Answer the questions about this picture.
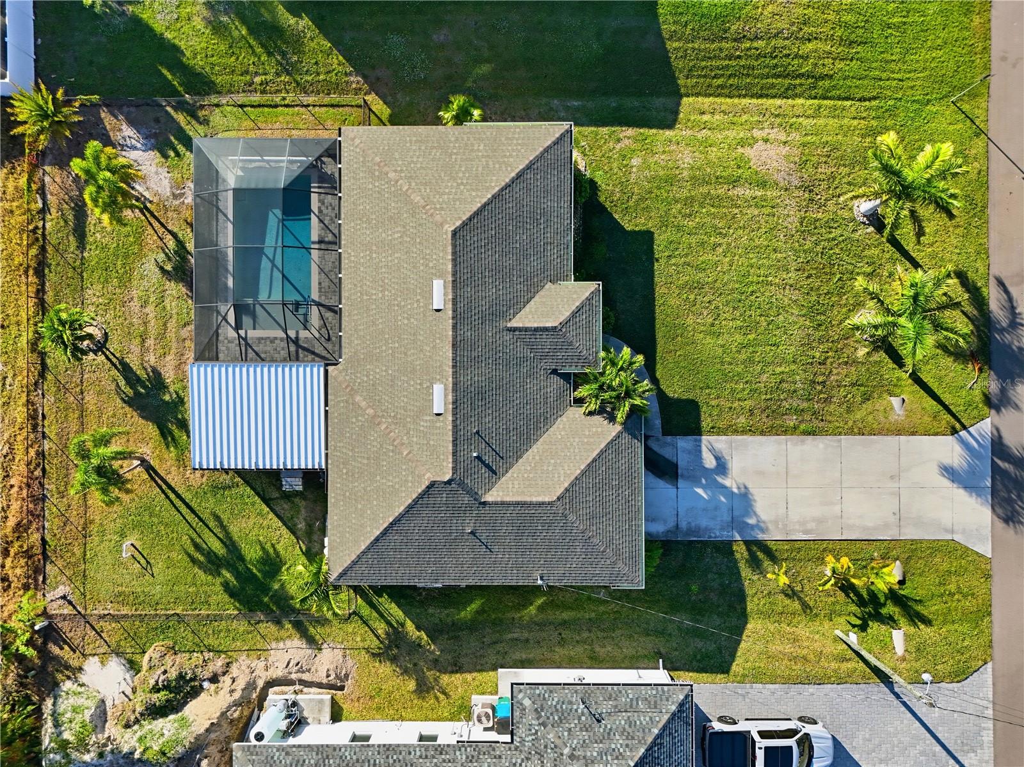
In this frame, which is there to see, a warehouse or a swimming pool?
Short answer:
swimming pool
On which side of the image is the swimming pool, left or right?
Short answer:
left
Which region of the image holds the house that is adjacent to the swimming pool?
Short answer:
center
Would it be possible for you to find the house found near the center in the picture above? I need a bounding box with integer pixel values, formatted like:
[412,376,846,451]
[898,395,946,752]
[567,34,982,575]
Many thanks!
[325,122,646,589]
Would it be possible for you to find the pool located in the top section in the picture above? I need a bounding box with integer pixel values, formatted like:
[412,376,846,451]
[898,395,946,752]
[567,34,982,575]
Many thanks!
[226,155,318,337]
